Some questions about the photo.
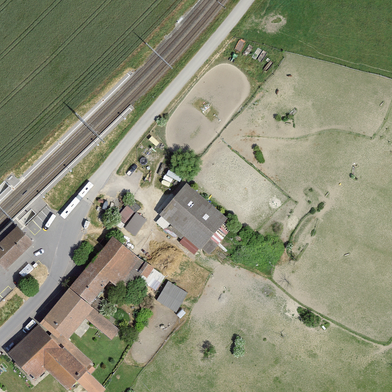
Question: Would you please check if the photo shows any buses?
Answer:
Yes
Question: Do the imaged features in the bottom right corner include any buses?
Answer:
No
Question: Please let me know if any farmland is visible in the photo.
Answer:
Yes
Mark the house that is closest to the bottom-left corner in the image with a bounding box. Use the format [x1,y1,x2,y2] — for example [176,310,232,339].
[8,324,62,383]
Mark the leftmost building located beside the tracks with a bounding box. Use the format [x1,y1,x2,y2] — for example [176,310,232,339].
[0,224,32,270]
